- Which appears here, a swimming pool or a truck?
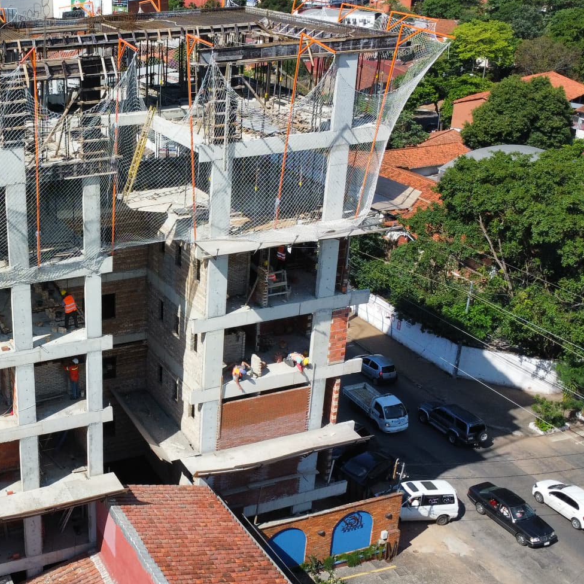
truck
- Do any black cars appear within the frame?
Yes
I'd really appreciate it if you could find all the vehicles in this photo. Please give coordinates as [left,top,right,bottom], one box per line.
[333,444,381,491]
[469,487,564,553]
[419,402,489,448]
[534,481,584,533]
[388,476,457,524]
[357,352,401,385]
[342,378,413,431]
